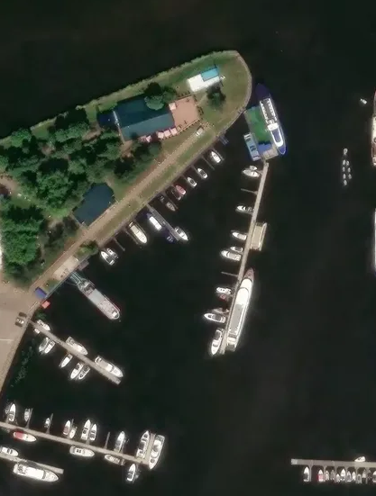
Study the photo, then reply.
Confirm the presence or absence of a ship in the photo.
Yes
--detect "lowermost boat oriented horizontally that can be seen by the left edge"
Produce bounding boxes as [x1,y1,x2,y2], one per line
[13,462,59,479]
